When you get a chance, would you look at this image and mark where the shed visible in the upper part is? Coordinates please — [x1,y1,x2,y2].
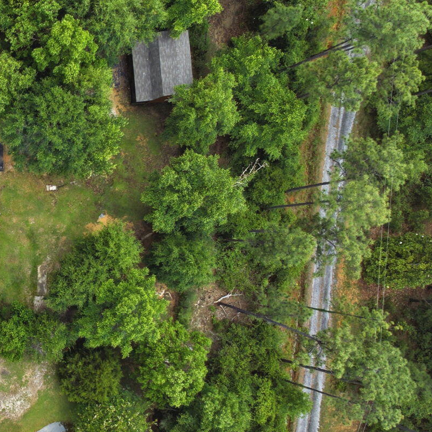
[127,30,192,105]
